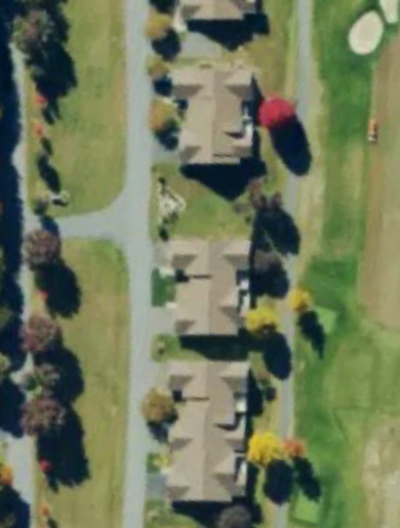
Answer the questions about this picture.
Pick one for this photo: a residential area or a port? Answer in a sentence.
The picture captures a residential area.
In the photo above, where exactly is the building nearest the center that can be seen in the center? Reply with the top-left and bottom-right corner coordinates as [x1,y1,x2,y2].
[170,238,249,337]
